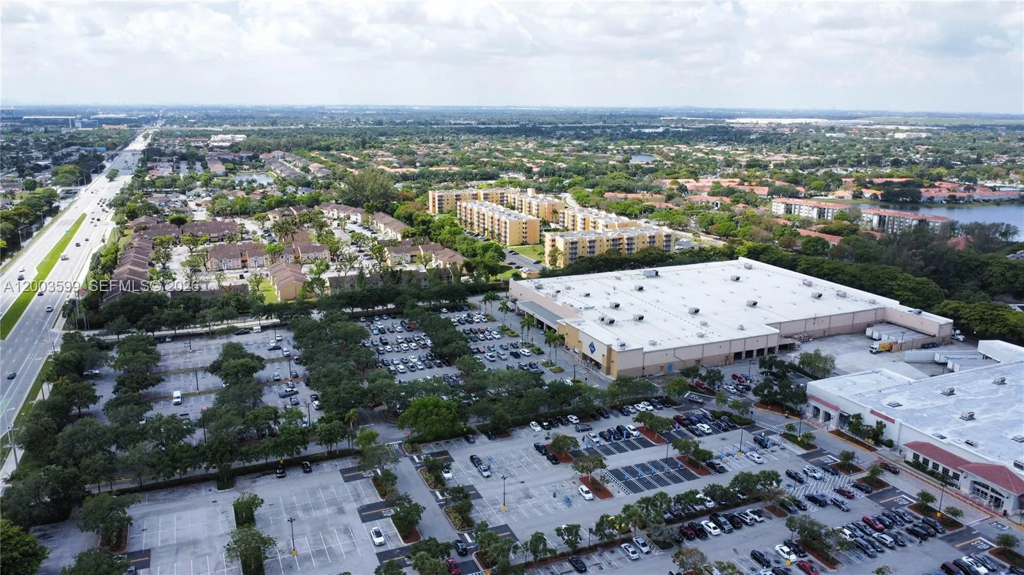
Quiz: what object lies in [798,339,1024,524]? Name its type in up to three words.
building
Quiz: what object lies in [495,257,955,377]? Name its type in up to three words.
building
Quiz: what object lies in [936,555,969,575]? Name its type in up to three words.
vehicle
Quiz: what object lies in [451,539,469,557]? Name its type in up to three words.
car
